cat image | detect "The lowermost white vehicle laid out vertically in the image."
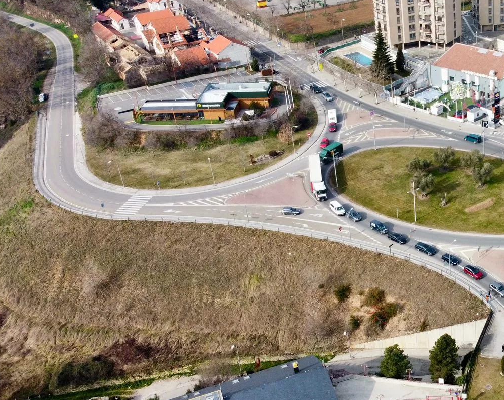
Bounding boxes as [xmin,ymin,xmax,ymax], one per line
[306,157,323,191]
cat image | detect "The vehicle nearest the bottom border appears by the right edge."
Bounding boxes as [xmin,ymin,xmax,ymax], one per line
[488,277,504,295]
